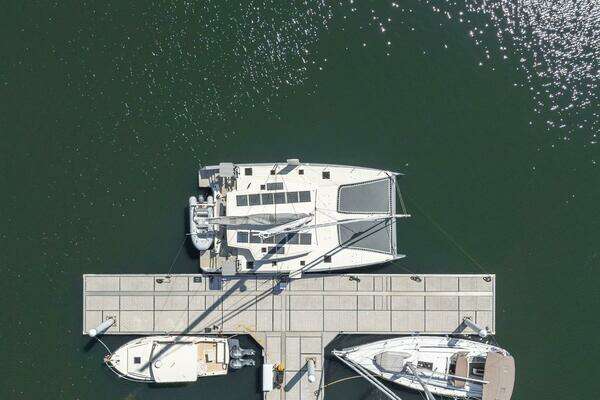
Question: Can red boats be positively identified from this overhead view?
No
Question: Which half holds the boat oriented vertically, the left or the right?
left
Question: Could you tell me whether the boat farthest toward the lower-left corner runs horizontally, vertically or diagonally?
horizontally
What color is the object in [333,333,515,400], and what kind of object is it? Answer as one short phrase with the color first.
white boat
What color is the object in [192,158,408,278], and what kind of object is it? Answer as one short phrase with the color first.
white boat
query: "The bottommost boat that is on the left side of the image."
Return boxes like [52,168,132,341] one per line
[103,334,257,384]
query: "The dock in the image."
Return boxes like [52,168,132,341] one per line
[83,274,495,400]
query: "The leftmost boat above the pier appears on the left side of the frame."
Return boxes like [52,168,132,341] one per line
[186,193,214,252]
